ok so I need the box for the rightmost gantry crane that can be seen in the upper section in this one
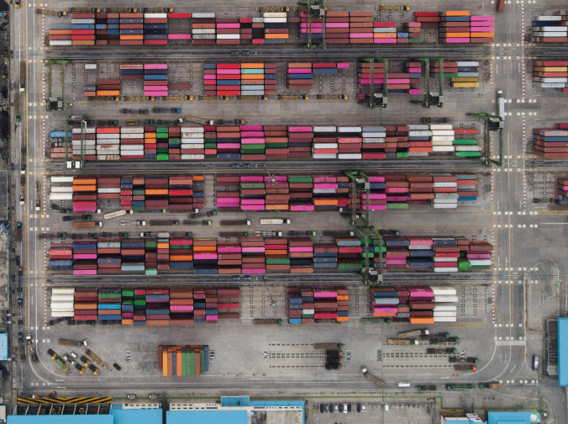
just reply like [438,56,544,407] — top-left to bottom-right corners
[464,111,505,167]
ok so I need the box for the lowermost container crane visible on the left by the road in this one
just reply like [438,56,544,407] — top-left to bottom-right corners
[63,115,94,171]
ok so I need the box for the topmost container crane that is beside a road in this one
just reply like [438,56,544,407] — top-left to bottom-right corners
[295,0,325,51]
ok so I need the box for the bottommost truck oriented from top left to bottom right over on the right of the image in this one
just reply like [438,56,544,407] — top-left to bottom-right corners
[359,363,385,387]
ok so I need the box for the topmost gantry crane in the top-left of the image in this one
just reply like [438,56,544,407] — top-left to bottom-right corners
[46,57,75,111]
